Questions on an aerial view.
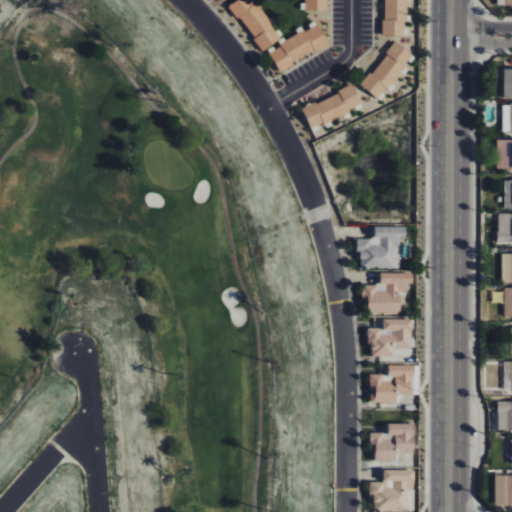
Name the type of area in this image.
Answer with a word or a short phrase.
golf course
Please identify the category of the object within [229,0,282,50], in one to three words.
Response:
building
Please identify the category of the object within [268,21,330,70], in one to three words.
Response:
building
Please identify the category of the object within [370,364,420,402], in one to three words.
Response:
house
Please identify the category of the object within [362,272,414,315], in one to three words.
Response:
house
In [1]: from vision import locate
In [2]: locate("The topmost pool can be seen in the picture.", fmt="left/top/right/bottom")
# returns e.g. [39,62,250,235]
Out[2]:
[485,100,498,127]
